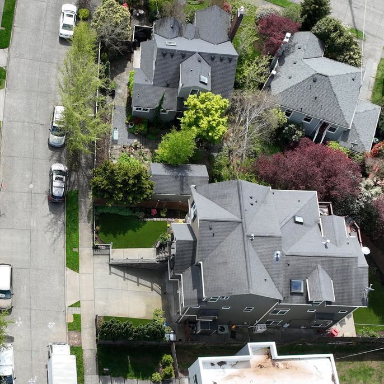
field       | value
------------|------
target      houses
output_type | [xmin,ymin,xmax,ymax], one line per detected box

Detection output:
[187,342,339,384]
[166,179,369,326]
[258,30,381,155]
[130,4,246,123]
